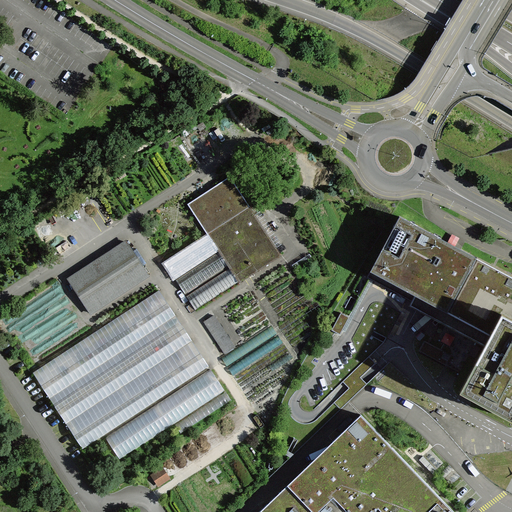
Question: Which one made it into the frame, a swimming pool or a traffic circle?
traffic circle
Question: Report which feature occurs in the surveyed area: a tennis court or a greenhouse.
greenhouse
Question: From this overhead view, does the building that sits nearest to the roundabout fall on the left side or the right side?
right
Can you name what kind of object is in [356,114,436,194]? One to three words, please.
roundabout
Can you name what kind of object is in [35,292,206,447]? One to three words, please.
greenhouse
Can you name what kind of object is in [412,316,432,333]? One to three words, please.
vehicle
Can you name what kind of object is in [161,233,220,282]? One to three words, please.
building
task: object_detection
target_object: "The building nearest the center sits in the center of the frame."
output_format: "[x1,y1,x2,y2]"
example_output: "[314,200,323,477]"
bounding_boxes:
[208,208,281,282]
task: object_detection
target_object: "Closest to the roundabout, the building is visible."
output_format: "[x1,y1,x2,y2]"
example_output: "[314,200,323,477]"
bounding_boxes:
[370,218,476,312]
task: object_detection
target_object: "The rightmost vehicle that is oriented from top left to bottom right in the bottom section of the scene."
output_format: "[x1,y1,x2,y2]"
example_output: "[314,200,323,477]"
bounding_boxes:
[464,459,478,476]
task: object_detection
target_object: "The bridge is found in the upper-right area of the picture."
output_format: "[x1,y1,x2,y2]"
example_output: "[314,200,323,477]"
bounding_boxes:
[362,0,512,132]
